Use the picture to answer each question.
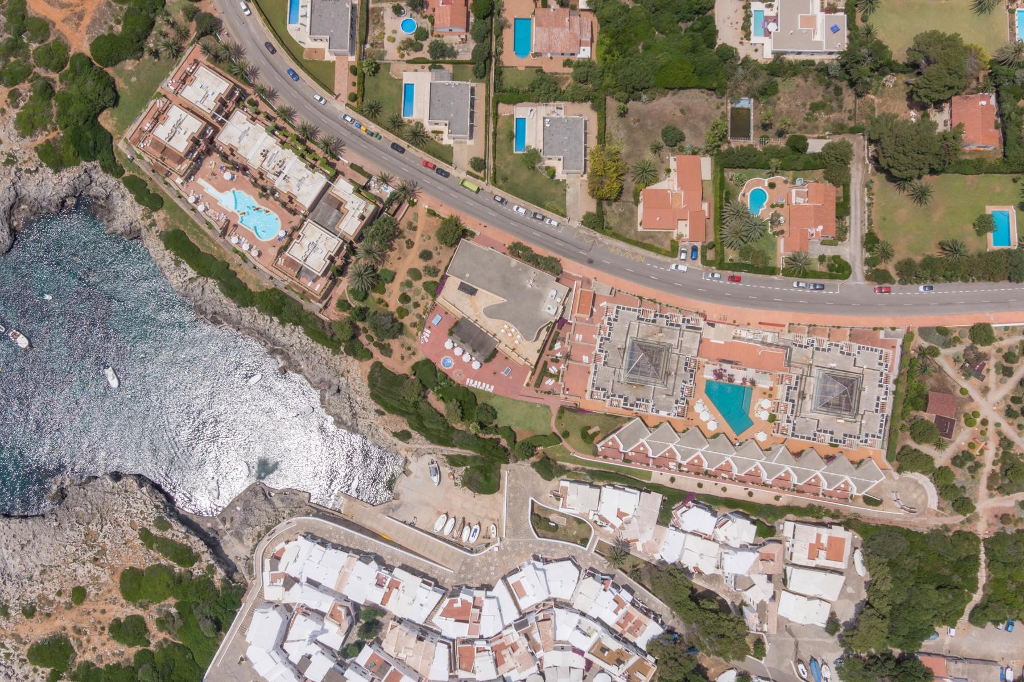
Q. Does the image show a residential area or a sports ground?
residential area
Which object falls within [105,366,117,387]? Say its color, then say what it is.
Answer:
white boat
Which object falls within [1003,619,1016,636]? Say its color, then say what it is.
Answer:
blue vehicle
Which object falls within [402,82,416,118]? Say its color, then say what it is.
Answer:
blue swimming pool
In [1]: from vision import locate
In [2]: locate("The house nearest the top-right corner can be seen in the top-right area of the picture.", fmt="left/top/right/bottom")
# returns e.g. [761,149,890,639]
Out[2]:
[947,92,1000,149]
